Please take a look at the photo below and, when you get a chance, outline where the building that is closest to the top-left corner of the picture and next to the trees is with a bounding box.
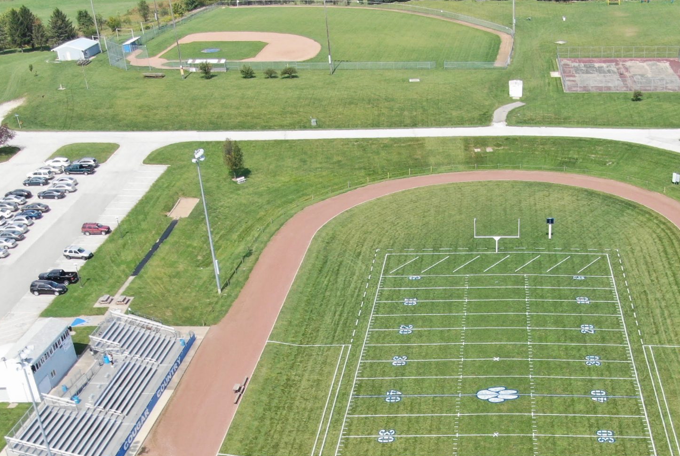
[54,37,99,60]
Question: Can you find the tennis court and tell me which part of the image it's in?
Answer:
top right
